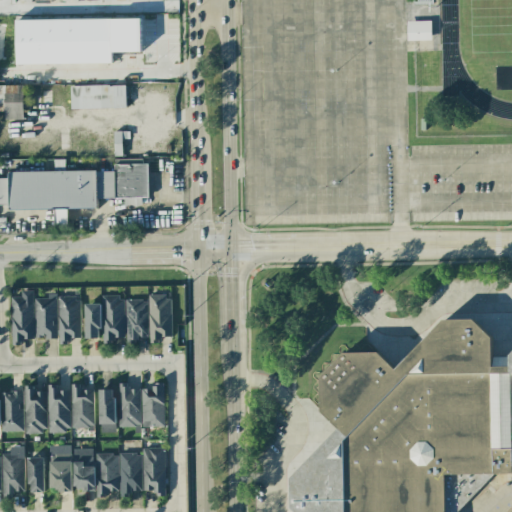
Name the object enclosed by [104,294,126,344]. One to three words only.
house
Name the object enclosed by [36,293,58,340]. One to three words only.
house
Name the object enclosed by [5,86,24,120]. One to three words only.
shed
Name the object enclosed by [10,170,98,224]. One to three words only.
building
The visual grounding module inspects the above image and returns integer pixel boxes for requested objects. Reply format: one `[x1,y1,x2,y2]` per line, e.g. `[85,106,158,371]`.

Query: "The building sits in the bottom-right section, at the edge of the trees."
[289,318,512,512]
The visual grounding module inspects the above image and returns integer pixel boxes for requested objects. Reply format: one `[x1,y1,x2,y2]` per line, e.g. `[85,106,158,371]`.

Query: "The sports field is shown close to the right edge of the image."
[459,0,512,102]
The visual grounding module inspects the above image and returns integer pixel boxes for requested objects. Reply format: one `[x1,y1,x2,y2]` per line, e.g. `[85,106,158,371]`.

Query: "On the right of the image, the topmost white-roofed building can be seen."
[408,21,432,41]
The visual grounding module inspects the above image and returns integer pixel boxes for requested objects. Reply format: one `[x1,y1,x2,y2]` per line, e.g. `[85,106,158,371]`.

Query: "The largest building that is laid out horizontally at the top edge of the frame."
[14,18,142,64]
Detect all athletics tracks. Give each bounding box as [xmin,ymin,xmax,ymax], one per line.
[442,0,512,120]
